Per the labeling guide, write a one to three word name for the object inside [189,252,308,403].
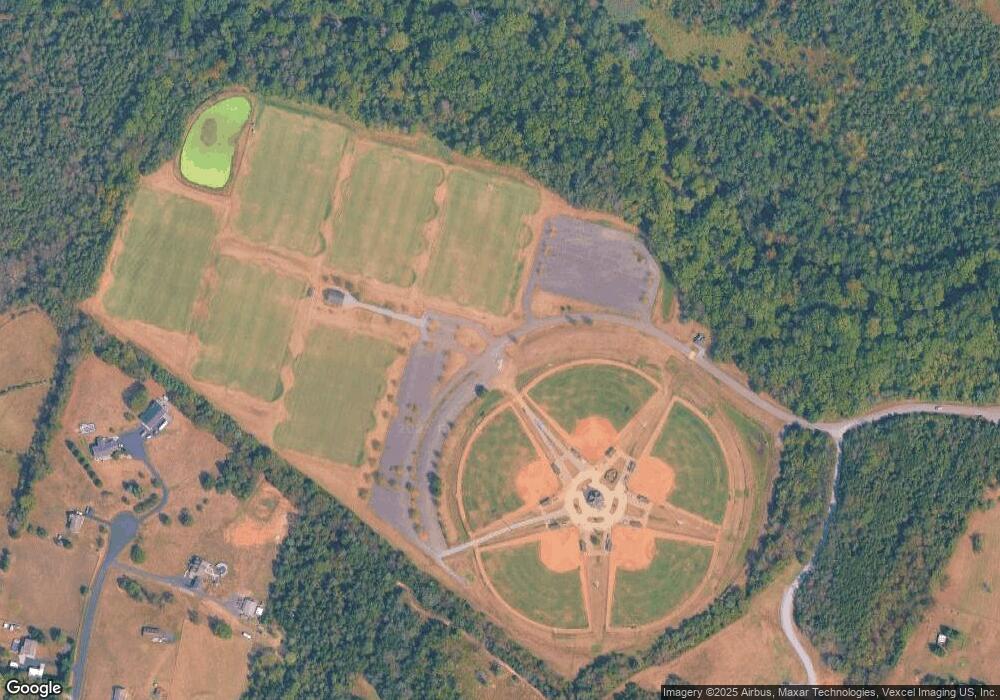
soccer field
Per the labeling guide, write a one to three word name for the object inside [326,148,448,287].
soccer field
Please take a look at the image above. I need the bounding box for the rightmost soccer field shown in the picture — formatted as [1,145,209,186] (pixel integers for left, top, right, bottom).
[423,168,544,316]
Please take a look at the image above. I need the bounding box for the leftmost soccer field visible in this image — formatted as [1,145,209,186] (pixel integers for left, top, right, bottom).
[101,186,220,335]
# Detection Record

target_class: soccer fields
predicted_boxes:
[101,186,220,335]
[326,148,448,287]
[229,103,353,254]
[271,324,403,468]
[189,252,308,403]
[423,168,544,316]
